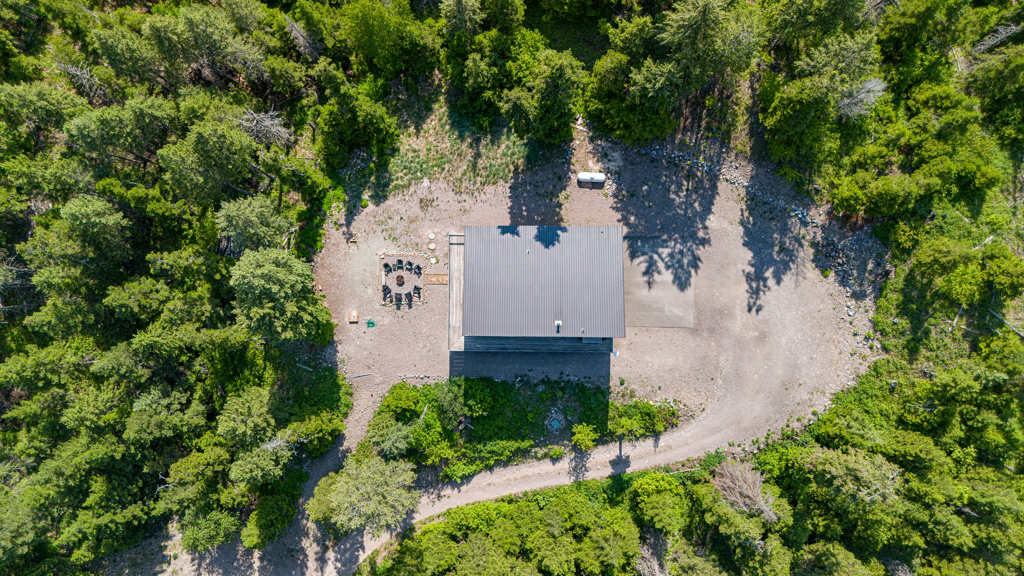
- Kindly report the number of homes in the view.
1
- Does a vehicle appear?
No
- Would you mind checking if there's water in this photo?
No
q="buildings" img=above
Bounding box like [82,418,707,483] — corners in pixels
[463,225,626,338]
